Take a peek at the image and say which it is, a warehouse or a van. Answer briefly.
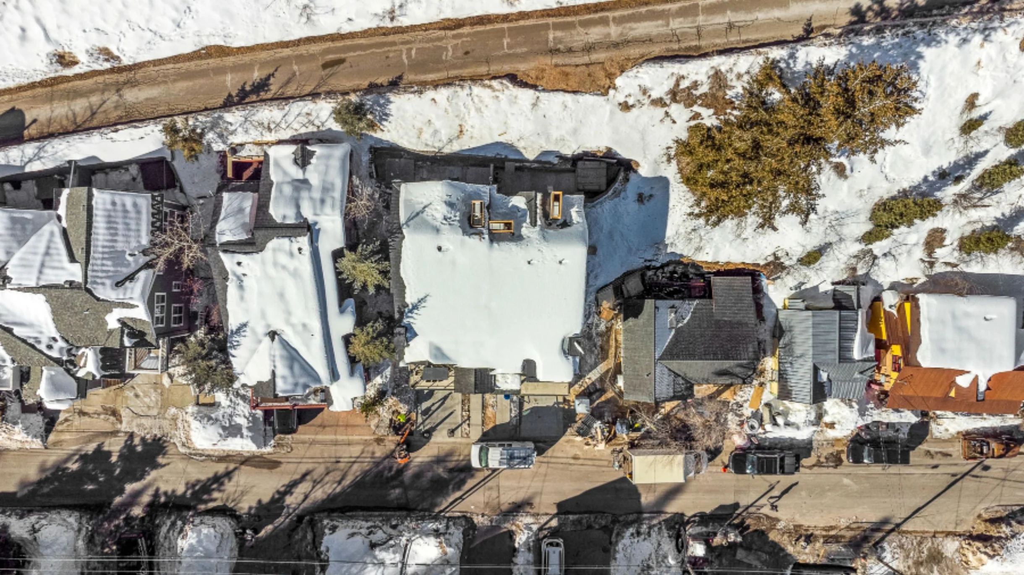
van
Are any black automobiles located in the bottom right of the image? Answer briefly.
Yes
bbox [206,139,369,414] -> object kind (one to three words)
house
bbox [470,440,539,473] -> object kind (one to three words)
van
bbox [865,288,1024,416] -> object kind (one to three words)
house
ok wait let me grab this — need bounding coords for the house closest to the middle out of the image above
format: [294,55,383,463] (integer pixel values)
[390,180,589,396]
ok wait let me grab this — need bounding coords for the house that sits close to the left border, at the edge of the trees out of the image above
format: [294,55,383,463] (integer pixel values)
[0,162,193,413]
